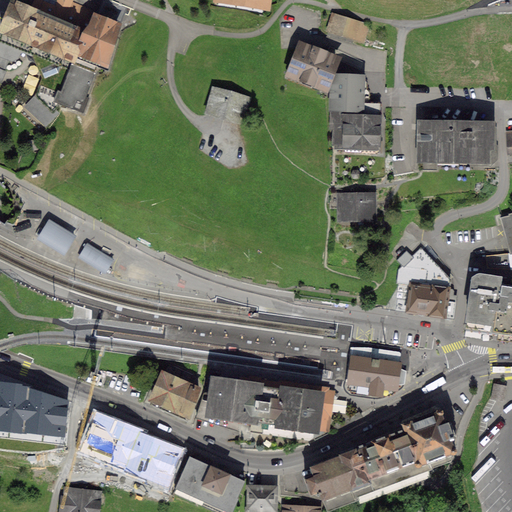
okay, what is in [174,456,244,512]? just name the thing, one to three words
house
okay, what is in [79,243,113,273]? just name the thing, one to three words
building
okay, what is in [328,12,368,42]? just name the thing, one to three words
barn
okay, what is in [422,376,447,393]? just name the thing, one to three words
vehicle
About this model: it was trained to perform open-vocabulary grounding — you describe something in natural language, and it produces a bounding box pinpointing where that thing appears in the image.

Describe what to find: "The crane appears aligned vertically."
[60,346,106,508]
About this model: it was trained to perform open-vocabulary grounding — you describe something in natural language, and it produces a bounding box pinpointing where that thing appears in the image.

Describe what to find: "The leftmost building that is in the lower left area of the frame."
[0,378,70,446]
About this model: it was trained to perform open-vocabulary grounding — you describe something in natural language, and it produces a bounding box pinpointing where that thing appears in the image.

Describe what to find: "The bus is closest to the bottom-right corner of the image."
[471,456,496,482]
